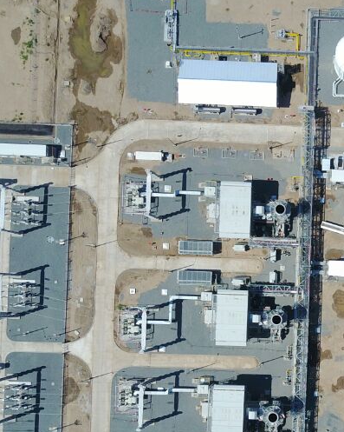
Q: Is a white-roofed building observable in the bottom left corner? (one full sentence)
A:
No, there's no white-roofed building to be seen in the bottom left corner.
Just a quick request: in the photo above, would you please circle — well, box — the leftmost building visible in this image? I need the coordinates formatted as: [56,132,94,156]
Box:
[0,141,54,162]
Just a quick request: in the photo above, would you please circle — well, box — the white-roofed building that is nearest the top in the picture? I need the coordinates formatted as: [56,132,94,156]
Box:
[176,56,279,113]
